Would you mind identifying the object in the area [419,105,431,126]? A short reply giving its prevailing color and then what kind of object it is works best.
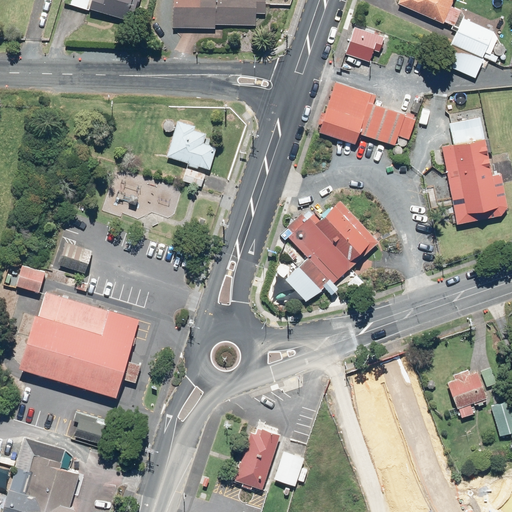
white vehicle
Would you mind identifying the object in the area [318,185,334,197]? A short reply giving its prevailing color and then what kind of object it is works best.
white vehicle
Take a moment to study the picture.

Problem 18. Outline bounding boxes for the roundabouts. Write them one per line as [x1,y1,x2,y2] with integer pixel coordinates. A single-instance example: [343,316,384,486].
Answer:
[210,340,241,372]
